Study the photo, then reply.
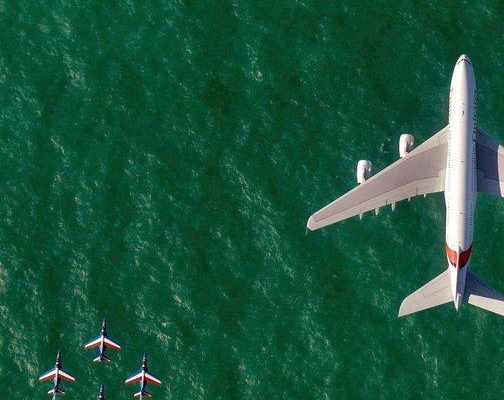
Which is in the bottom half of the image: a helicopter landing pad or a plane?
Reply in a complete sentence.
You can see a plane in the bottom half of the image.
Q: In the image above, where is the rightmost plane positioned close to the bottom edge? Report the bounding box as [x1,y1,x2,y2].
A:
[125,352,162,397]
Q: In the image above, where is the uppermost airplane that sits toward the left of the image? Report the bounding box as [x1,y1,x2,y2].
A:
[85,319,121,362]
